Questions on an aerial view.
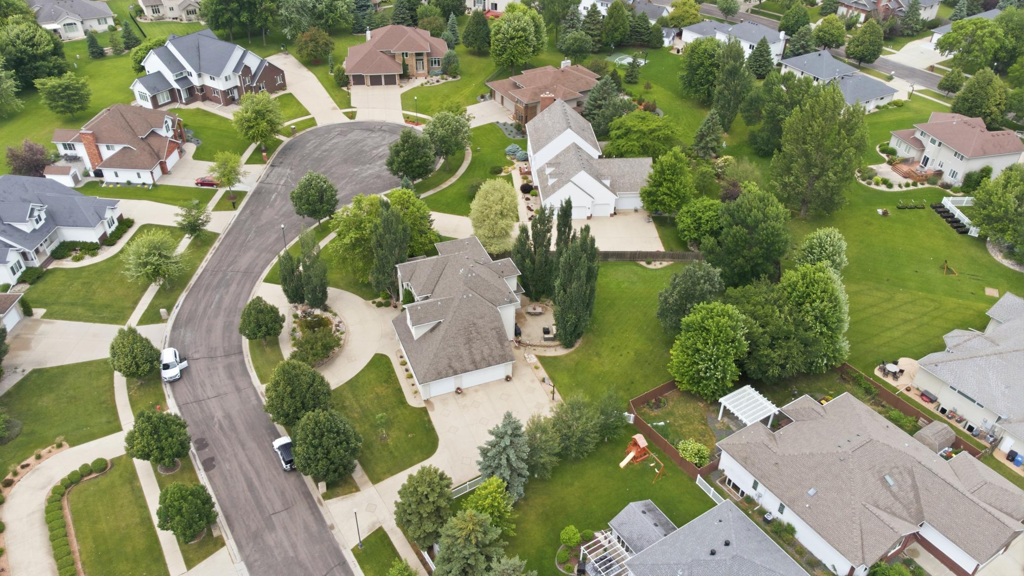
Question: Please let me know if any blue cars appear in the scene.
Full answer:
No, the frame has no blue car in it.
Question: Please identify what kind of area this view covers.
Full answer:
The area seen from above is a residential area.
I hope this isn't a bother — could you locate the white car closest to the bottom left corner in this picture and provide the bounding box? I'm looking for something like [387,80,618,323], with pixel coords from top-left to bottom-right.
[158,342,190,380]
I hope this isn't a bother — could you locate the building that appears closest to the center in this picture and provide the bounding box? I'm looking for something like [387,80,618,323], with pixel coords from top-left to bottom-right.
[391,236,533,399]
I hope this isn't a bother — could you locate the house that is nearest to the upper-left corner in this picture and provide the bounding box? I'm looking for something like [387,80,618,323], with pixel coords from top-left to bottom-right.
[33,0,118,39]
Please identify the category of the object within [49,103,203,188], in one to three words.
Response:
house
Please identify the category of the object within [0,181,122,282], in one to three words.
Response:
house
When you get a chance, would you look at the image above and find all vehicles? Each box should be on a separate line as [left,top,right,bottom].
[158,342,190,380]
[268,433,300,471]
[191,174,223,189]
